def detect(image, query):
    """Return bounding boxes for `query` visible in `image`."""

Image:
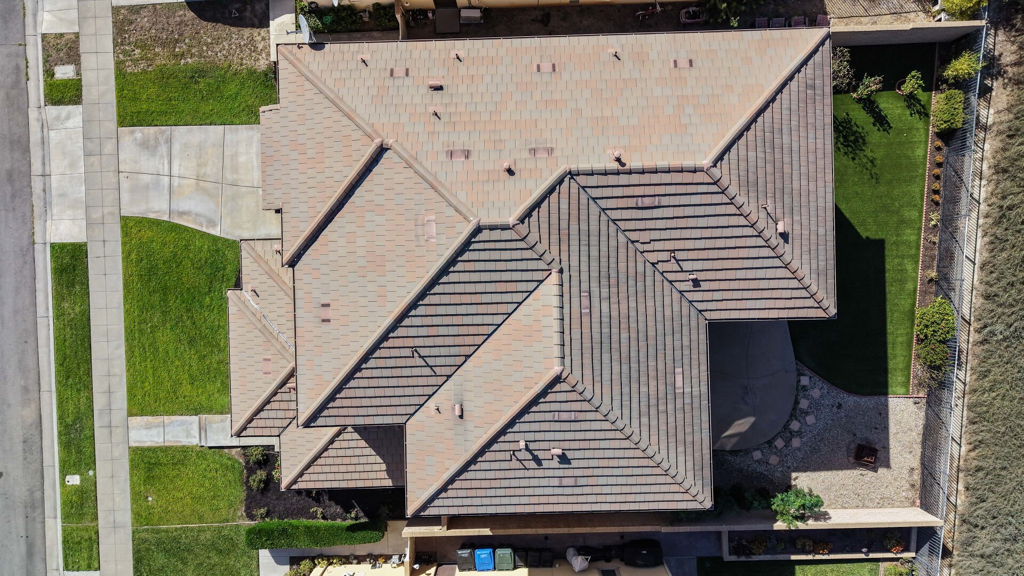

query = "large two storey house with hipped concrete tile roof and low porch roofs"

[227,28,838,518]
